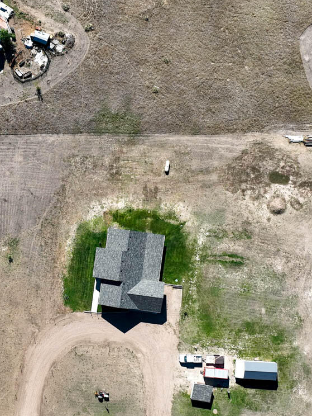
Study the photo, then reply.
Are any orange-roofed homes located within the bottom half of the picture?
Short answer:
No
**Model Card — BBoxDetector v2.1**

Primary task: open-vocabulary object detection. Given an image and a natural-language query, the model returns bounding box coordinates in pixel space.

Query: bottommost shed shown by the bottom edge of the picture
[190,381,213,404]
